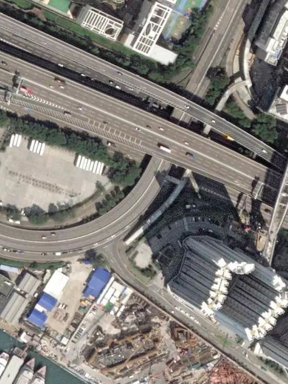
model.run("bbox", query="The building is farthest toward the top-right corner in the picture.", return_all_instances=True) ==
[250,0,288,64]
